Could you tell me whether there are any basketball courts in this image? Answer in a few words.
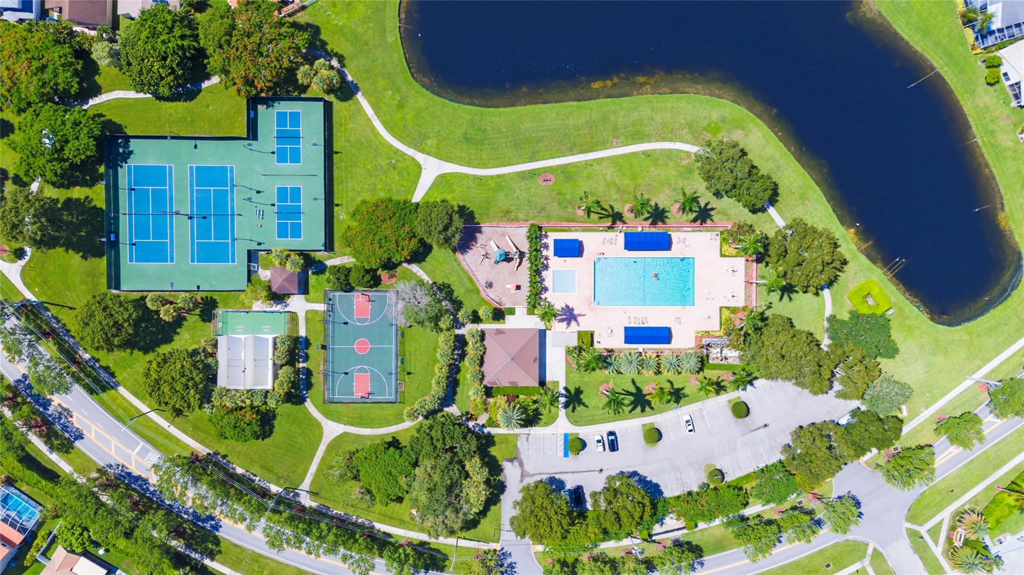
Yes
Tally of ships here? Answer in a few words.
zero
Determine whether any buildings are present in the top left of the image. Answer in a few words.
Yes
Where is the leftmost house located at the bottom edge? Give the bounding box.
[0,515,30,565]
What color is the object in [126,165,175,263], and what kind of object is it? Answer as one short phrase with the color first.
blue tennis court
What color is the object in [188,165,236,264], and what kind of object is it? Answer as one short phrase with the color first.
blue tennis court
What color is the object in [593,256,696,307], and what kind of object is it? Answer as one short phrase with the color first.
blue swimming pool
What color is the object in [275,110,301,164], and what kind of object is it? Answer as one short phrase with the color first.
blue sports court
